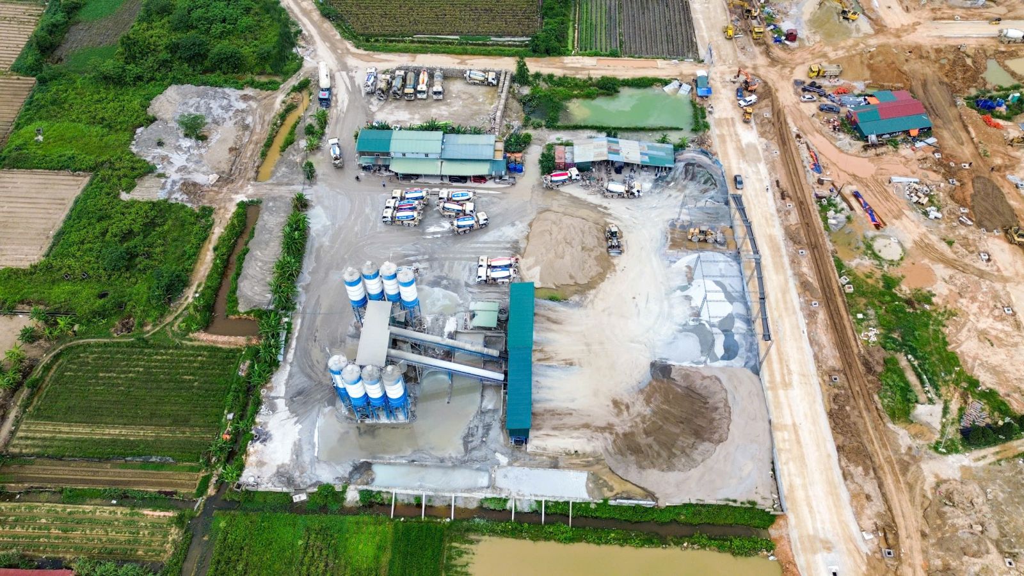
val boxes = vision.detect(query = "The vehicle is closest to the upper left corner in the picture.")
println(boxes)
[316,57,329,109]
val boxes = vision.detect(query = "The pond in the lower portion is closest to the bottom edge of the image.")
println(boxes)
[470,538,781,576]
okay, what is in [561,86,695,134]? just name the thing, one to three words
pond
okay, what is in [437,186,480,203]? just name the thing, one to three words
vehicle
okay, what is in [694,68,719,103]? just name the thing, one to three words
shed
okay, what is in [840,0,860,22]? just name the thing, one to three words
work vehicle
